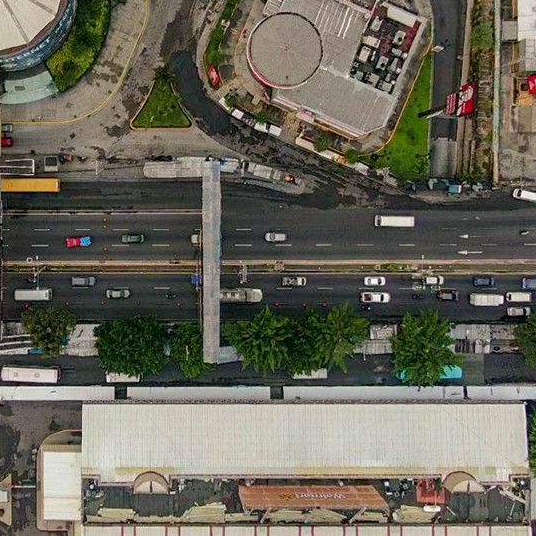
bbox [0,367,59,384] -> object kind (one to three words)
vehicle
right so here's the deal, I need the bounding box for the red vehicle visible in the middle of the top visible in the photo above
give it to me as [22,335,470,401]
[208,65,222,86]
